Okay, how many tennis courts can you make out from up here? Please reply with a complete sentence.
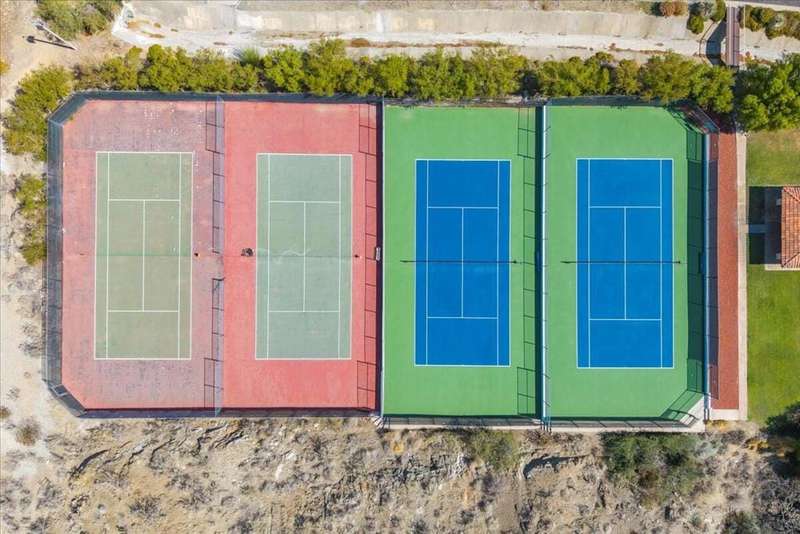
In total, there are 4 tennis courts in the scene.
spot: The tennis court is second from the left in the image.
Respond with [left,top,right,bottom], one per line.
[224,101,382,409]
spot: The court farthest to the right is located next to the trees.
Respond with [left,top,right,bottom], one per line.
[545,105,705,420]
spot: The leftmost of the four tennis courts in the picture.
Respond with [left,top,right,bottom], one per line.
[62,101,224,409]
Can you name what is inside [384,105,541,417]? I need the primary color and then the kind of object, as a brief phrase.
green tennis court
